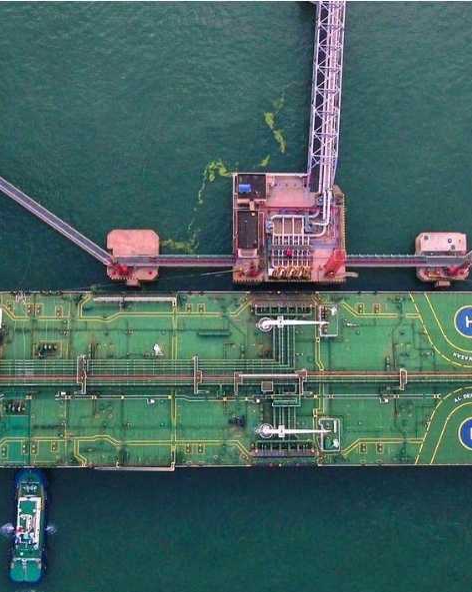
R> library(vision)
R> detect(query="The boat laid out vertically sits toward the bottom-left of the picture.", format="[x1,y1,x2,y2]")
[8,469,46,584]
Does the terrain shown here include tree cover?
No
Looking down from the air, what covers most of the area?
water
